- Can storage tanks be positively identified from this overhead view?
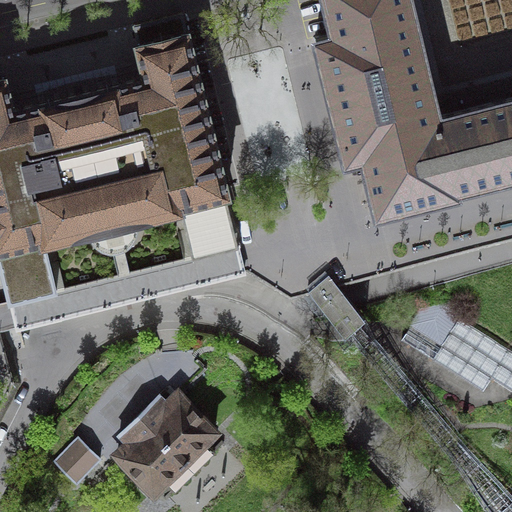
No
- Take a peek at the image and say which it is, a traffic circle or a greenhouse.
greenhouse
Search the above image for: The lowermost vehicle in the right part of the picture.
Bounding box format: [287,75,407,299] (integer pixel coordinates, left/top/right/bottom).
[330,256,346,278]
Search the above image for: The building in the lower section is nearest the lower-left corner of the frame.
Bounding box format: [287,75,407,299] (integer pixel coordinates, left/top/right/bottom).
[54,436,102,485]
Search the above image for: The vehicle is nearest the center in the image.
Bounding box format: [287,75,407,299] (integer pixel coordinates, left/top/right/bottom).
[240,220,252,244]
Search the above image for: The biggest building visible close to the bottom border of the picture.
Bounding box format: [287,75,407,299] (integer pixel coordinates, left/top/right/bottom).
[110,384,226,503]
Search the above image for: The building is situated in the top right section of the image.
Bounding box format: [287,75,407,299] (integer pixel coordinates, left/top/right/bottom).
[312,0,512,226]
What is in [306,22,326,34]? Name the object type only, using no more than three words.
vehicle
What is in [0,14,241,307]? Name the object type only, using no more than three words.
building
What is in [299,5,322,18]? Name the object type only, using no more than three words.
vehicle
